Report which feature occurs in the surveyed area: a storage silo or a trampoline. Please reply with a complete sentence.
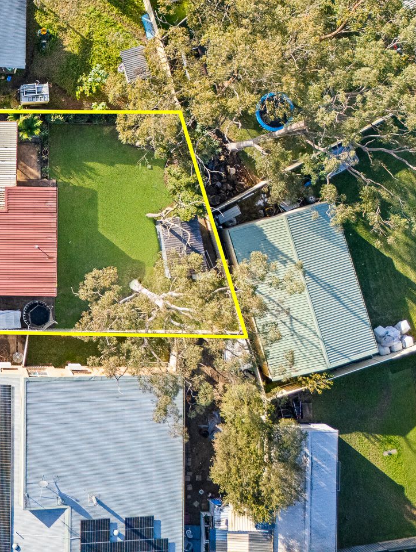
Of the two, only a trampoline appears.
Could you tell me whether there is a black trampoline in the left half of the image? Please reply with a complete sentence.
Yes, a black trampoline shows up in the left half of the image.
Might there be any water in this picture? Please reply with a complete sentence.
No, the scene doesn't show any water.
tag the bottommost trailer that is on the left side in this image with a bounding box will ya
[20,78,63,106]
